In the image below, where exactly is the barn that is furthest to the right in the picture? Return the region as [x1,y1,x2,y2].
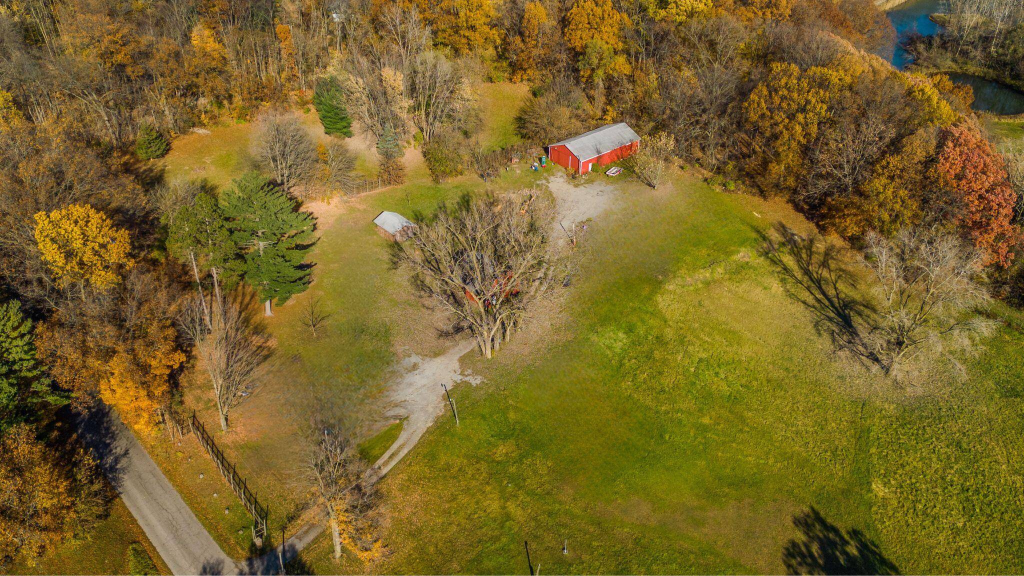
[542,124,645,175]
